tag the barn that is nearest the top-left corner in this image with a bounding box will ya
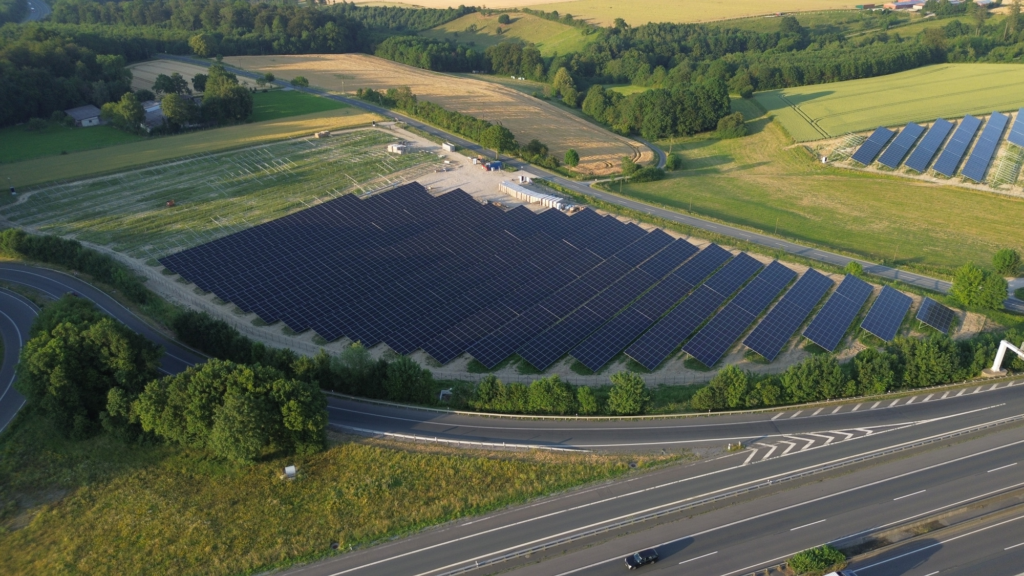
[63,107,105,128]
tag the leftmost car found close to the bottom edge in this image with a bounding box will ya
[625,551,660,572]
